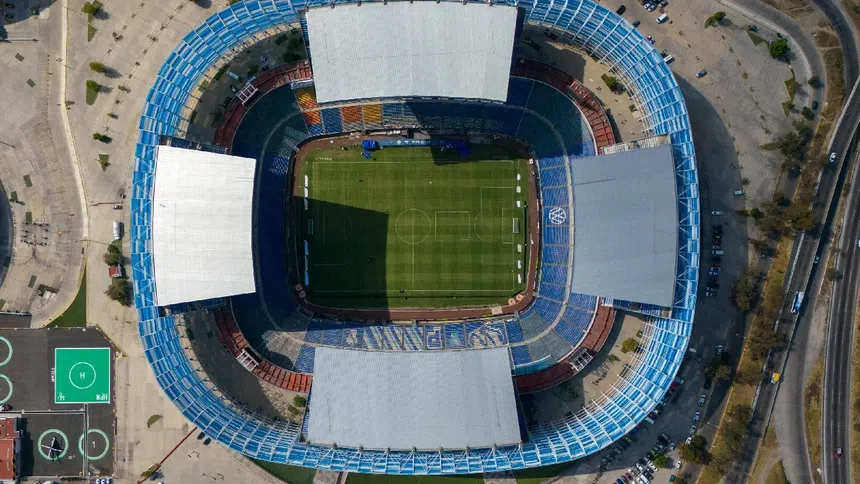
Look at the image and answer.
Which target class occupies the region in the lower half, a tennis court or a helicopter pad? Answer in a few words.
helicopter pad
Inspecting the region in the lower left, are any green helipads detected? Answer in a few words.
Yes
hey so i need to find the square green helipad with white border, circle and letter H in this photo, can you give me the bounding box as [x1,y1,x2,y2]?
[51,348,110,403]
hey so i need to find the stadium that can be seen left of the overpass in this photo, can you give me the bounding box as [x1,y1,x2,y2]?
[131,0,700,474]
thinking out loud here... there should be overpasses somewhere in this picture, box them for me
[729,74,860,484]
